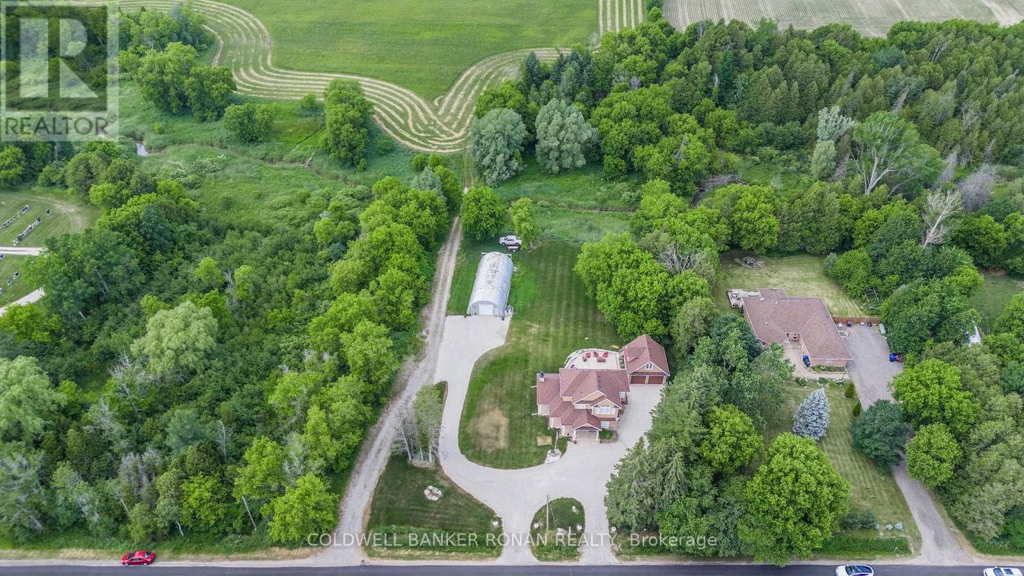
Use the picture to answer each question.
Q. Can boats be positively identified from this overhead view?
No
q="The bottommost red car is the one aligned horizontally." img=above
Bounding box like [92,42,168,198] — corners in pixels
[117,549,156,568]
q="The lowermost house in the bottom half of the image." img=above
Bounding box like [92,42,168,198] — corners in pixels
[531,366,630,445]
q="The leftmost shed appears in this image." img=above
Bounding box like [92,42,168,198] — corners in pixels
[466,251,514,315]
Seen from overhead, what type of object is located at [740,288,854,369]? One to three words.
house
